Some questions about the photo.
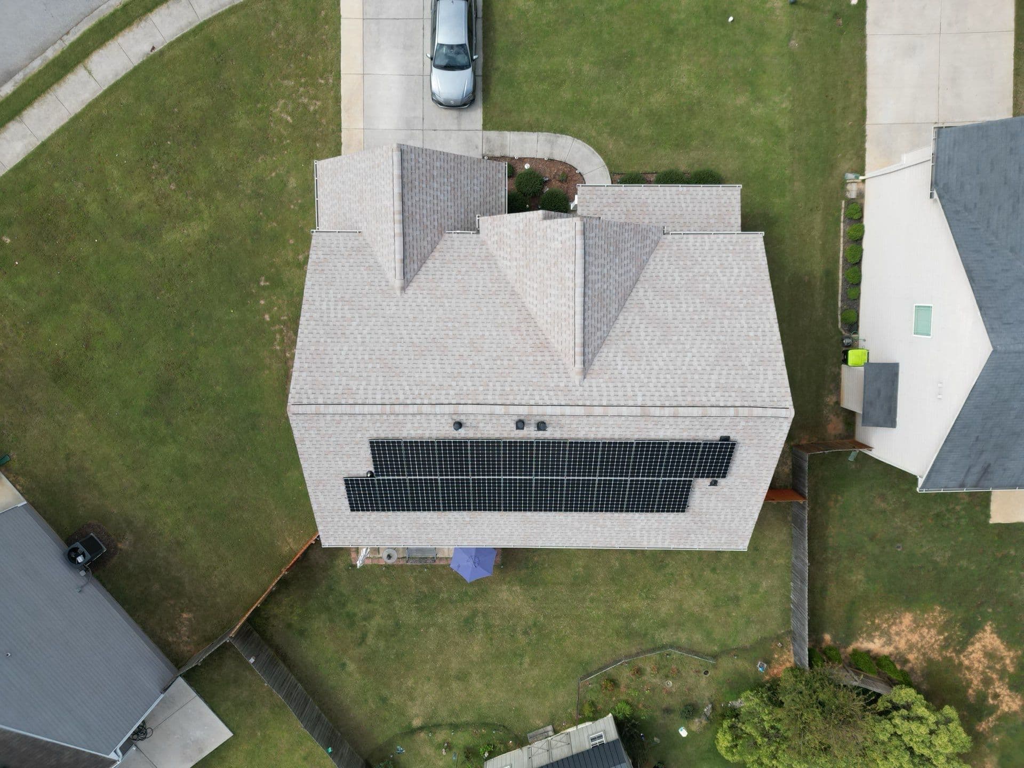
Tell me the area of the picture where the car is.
top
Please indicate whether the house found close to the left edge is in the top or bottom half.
bottom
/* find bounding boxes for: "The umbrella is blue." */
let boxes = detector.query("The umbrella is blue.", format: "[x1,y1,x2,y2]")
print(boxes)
[451,552,497,582]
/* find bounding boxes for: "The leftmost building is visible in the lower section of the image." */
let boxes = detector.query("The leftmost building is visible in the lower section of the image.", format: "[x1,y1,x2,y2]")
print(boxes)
[0,502,182,768]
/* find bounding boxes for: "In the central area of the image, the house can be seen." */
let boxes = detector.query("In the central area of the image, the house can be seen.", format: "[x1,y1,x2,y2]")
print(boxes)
[287,145,794,554]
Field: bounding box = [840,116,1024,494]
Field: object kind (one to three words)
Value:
house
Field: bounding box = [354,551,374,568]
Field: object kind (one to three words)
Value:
umbrella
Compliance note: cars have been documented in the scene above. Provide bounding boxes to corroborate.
[424,0,481,112]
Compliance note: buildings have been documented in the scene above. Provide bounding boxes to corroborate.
[476,714,631,768]
[840,116,1024,494]
[0,502,182,768]
[287,145,794,554]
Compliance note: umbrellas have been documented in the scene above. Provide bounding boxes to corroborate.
[451,552,497,582]
[354,551,374,568]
